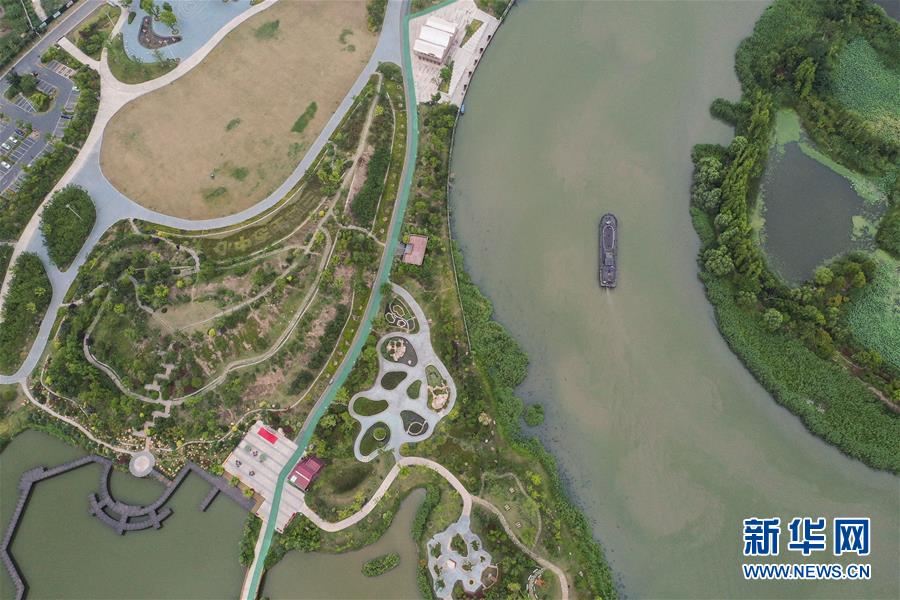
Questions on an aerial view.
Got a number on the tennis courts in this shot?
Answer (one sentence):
The picture shows no tennis courts.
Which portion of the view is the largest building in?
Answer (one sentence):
You can find the largest building in the top area of the picture.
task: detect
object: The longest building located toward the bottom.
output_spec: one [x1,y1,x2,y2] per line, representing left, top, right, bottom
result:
[288,453,327,493]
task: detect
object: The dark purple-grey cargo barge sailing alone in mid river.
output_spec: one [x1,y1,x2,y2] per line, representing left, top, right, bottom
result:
[597,213,618,290]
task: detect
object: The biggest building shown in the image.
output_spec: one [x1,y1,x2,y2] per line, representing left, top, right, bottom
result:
[412,17,458,64]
